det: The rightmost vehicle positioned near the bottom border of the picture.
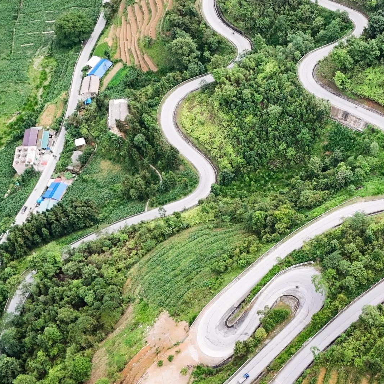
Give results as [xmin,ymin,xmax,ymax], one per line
[236,370,251,384]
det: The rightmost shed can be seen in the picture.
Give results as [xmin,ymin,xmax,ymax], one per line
[105,100,131,130]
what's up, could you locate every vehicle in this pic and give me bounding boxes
[236,370,251,384]
[20,205,27,213]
